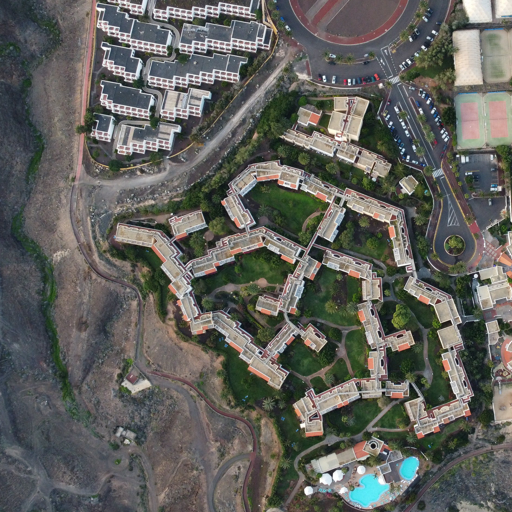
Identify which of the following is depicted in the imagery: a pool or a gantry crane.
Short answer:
pool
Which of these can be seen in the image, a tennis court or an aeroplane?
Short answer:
tennis court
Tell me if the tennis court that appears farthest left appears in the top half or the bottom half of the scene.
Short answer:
top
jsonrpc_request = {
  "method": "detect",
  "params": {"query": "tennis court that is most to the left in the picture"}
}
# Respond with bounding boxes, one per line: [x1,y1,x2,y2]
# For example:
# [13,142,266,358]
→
[455,91,486,148]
